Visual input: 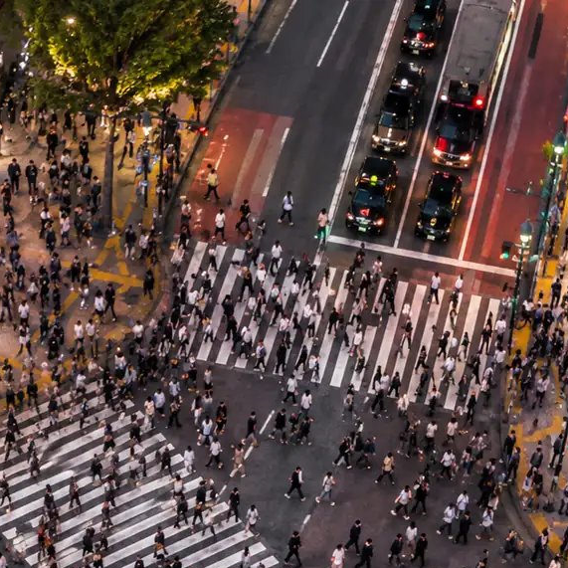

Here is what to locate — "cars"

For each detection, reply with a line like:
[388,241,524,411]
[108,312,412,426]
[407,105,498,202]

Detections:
[351,159,404,233]
[422,168,474,241]
[377,79,427,152]
[436,98,483,167]
[404,0,450,55]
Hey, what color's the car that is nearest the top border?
black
